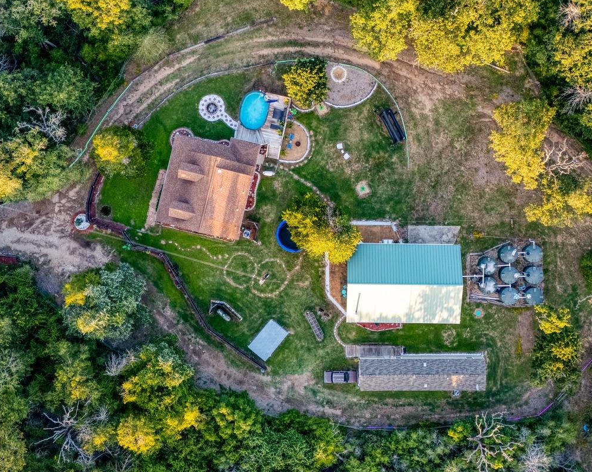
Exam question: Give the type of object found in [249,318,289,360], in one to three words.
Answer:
shed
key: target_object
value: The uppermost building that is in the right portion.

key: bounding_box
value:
[346,243,463,324]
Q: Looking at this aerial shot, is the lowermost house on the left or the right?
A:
right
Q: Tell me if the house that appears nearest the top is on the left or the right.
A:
left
